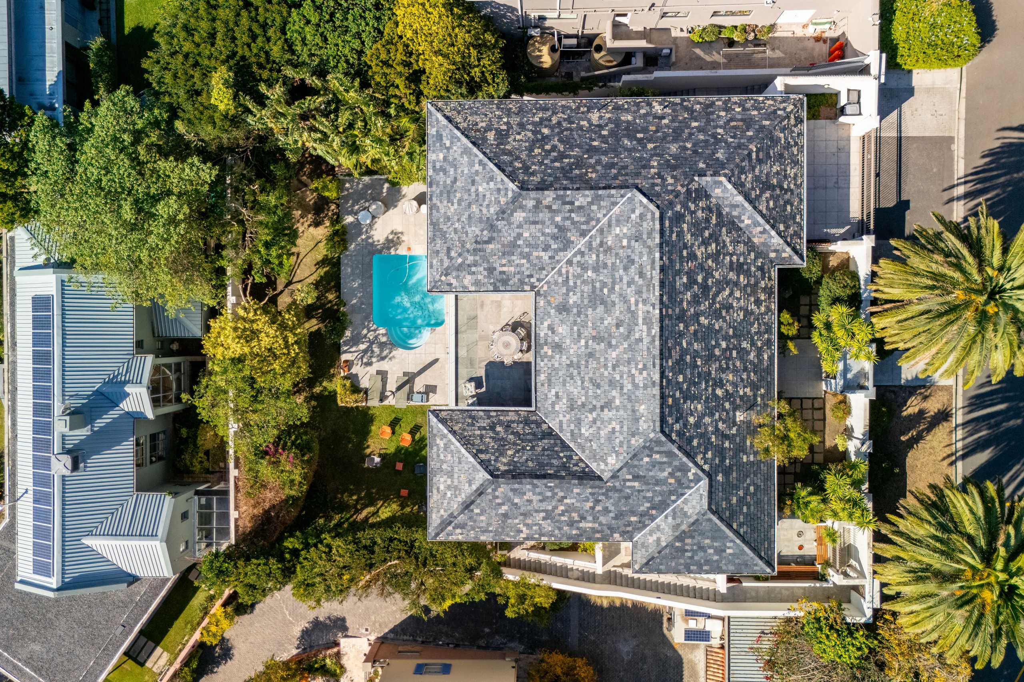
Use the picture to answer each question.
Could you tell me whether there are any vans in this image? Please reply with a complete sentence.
Yes, the frame does contain a van.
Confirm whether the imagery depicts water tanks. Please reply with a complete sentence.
Yes, looking at the shot, I can spot a water tank.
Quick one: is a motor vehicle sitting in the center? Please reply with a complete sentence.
No, in the center there is no motor vehicle.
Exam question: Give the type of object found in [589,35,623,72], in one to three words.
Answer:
water tank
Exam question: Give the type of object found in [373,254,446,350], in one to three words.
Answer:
swimming pool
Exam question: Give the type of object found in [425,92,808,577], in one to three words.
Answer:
house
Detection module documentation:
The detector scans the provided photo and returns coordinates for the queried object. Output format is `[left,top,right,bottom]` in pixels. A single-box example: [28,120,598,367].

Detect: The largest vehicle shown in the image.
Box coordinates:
[666,607,723,647]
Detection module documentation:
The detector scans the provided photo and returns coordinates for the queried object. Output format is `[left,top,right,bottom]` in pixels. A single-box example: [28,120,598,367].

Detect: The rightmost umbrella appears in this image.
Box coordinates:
[379,390,396,403]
